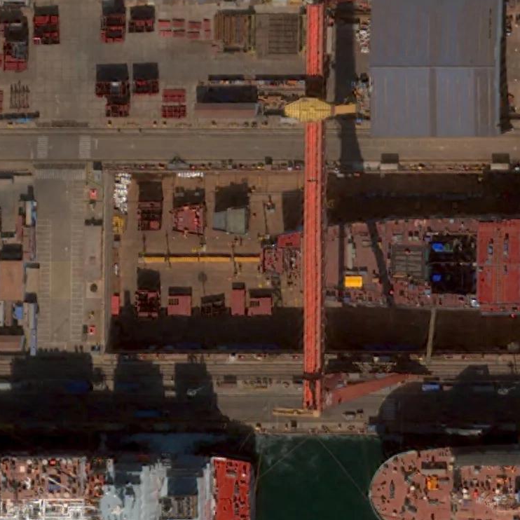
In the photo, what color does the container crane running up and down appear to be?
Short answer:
red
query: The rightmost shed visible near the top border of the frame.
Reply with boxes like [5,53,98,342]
[368,0,511,137]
